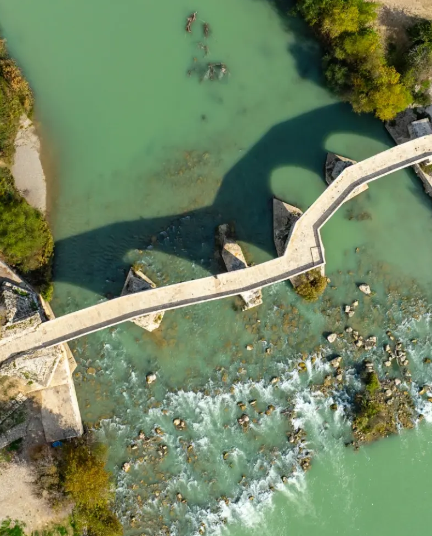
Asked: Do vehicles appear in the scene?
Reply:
No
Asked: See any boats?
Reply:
No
